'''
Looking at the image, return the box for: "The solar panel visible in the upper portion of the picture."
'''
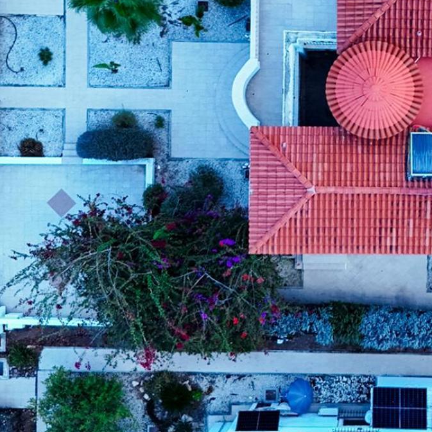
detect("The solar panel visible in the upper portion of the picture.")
[411,134,432,178]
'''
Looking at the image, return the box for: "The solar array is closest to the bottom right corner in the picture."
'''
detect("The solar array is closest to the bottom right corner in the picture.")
[373,386,426,428]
